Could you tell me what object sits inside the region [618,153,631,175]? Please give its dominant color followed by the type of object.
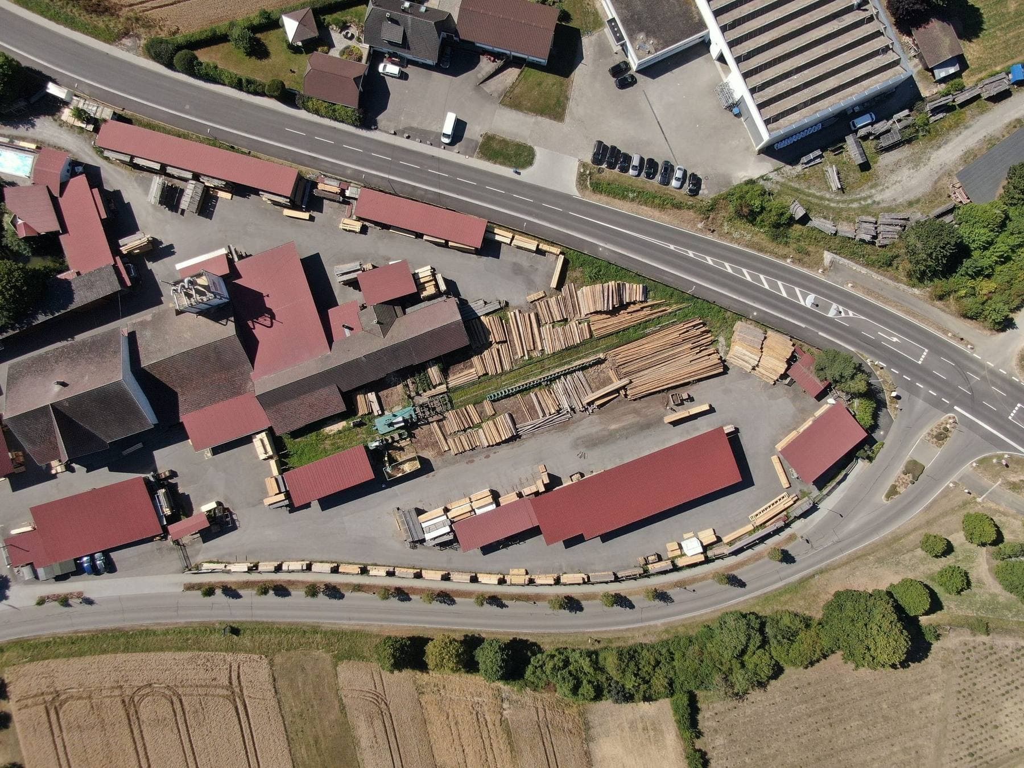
black vehicle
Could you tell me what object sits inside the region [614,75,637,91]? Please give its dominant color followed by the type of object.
black car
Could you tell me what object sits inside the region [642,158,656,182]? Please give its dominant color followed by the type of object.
black car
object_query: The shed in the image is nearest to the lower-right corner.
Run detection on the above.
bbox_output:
[772,401,867,484]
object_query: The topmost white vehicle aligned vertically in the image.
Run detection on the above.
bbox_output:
[442,112,457,145]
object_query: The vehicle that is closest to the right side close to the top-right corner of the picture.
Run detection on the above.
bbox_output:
[847,112,877,131]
